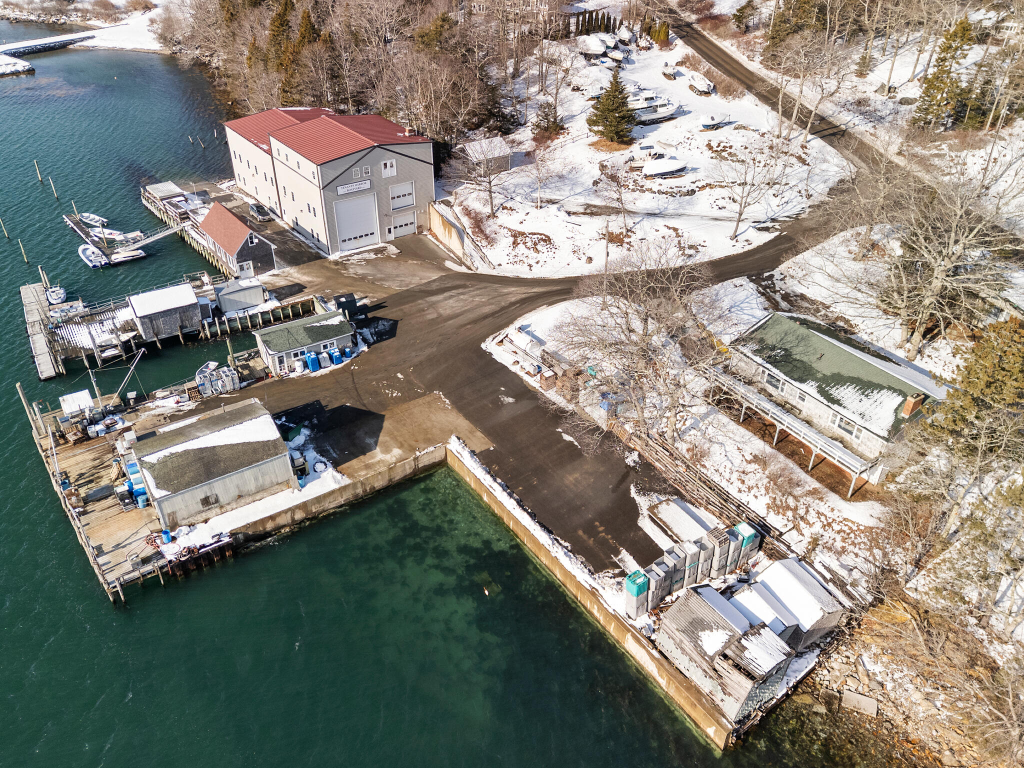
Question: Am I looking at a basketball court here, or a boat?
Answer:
boat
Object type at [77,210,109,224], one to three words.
boat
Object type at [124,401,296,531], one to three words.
shed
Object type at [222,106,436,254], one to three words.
shed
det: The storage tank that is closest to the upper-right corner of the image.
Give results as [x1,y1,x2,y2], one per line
[503,326,539,359]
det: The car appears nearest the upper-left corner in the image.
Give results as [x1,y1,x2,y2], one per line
[247,197,272,218]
